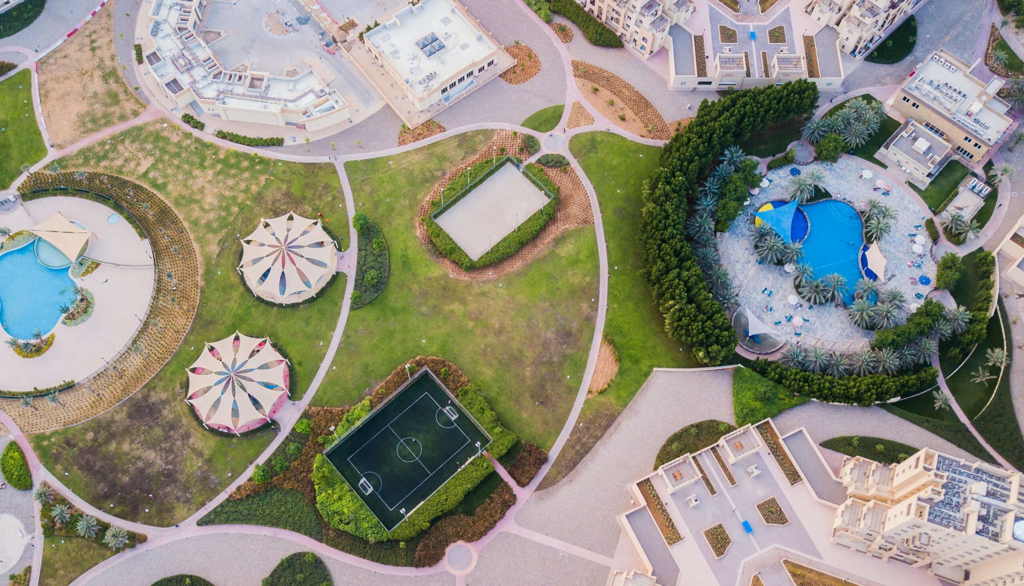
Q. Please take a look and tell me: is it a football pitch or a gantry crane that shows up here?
football pitch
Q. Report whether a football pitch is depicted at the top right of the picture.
No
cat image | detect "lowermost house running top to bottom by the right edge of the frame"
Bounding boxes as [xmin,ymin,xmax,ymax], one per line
[989,215,1024,298]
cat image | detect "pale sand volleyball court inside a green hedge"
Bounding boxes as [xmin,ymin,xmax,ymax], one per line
[436,162,548,260]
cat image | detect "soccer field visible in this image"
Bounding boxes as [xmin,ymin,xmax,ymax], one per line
[326,372,491,530]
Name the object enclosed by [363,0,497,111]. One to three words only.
building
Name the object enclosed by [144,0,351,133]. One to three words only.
building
